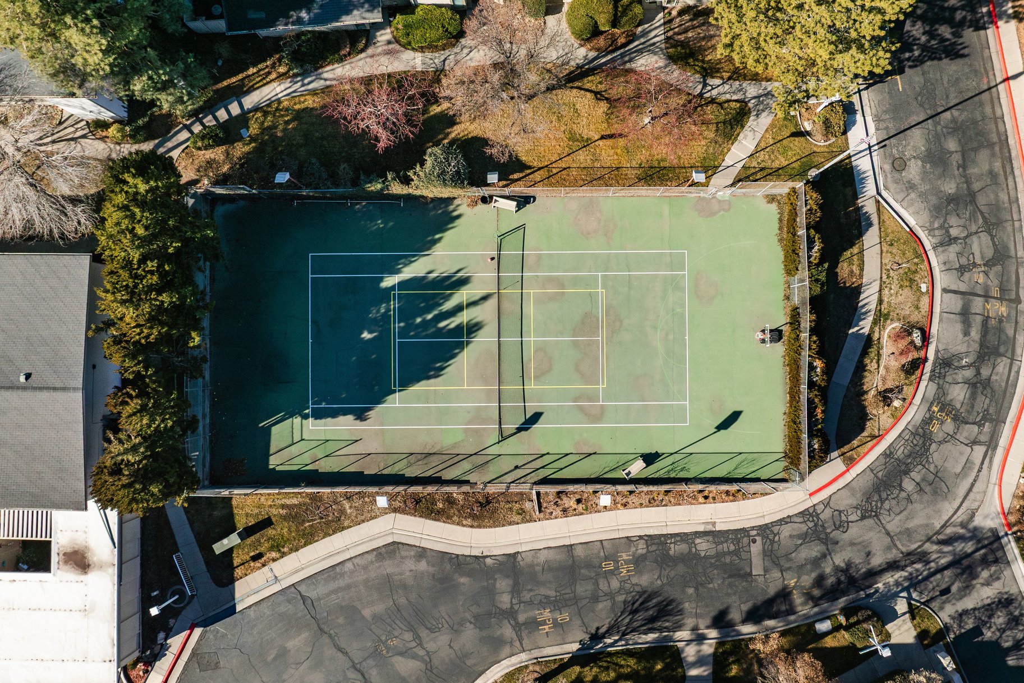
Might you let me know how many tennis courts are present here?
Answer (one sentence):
There is 1 tennis court in the image.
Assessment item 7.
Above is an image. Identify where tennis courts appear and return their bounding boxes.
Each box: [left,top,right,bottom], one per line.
[210,193,789,485]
